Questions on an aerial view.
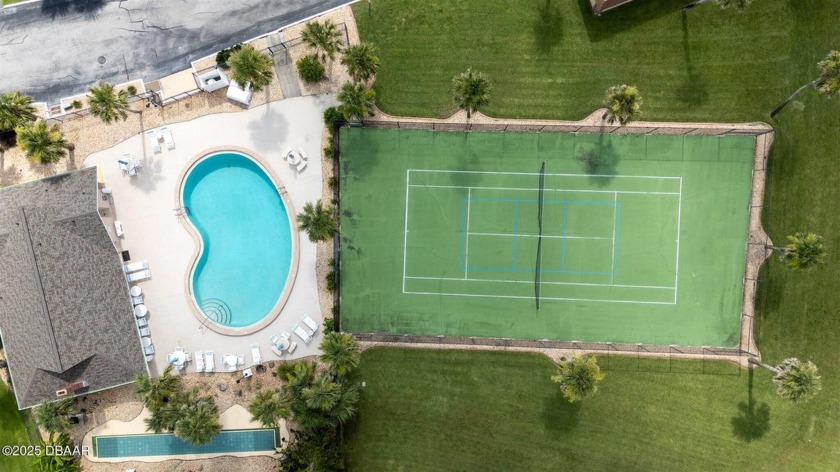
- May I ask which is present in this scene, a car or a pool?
pool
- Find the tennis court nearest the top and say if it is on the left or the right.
right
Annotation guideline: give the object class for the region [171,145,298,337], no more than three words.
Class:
swimming pool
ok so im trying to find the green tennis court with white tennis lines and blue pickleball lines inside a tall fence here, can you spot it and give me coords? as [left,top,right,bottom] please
[340,127,756,348]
